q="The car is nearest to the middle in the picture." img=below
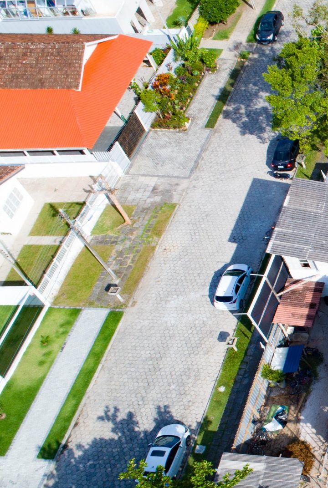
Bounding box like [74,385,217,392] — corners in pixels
[205,256,254,312]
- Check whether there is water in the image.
No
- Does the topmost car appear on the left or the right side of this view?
right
